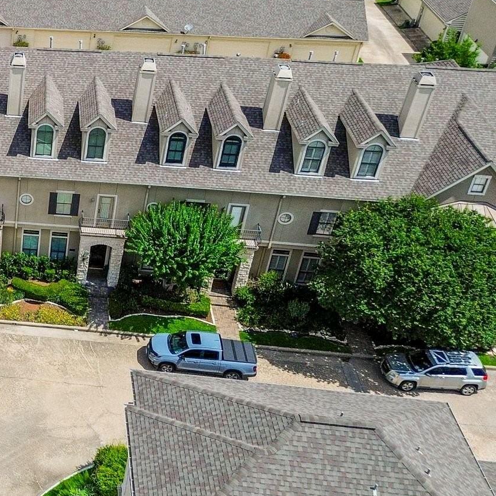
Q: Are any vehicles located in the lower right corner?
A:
Yes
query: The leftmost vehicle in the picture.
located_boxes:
[140,324,260,377]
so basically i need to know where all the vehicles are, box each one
[375,343,496,396]
[140,324,260,377]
